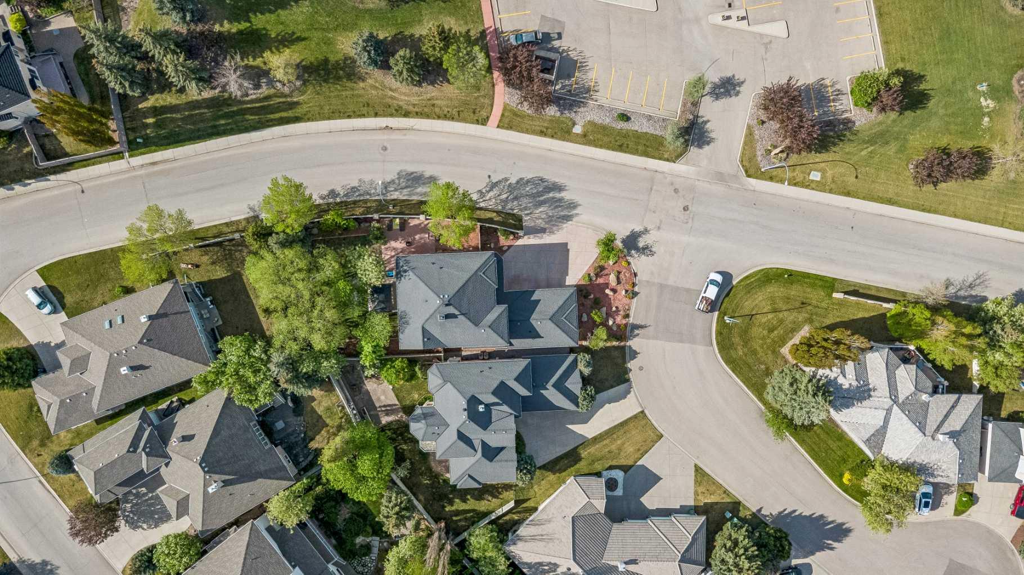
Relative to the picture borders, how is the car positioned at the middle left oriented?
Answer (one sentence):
In this picture, the car positioned at the middle left lies on a diagonal.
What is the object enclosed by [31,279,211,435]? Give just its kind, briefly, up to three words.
house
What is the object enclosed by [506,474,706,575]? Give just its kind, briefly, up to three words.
house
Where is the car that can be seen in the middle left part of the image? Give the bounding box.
[20,285,52,317]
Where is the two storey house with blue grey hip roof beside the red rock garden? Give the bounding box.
[395,251,578,350]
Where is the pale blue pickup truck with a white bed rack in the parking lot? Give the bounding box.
[510,25,544,46]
